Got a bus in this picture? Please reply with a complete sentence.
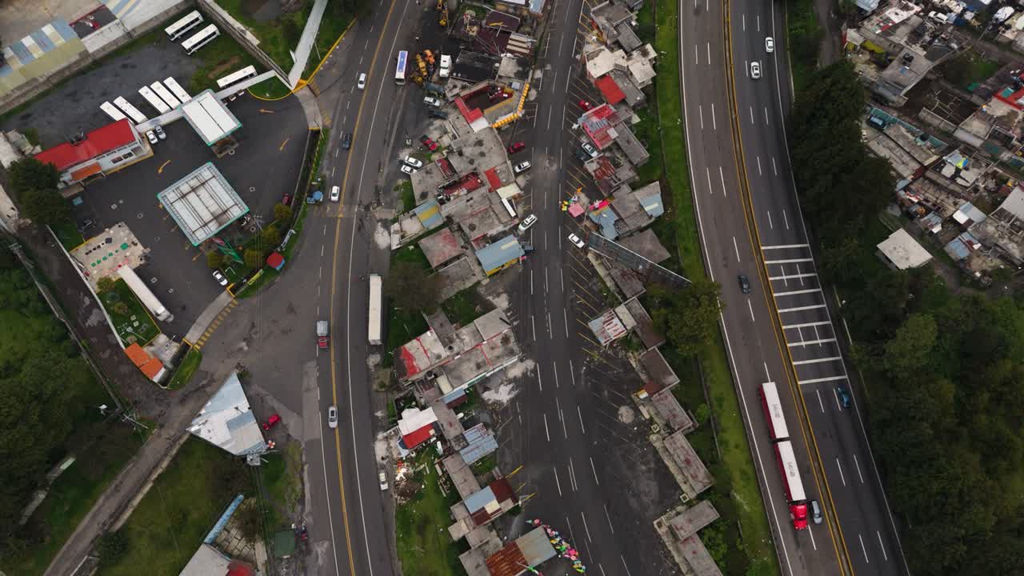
Yes, looking at the shot, I can spot a bus.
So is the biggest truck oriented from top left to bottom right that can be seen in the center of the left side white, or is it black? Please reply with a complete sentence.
The color of the biggest truck oriented from top left to bottom right that can be seen in the center of the left side is white.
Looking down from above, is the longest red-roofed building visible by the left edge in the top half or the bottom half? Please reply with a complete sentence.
The longest red-roofed building visible by the left edge is in the top half of the image.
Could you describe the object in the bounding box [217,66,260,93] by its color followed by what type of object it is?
white bus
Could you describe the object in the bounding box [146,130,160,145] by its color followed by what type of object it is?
white car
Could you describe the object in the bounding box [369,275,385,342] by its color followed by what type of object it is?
white trailer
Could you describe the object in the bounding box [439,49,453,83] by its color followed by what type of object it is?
white vehicle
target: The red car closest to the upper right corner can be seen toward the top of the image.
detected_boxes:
[577,99,595,113]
